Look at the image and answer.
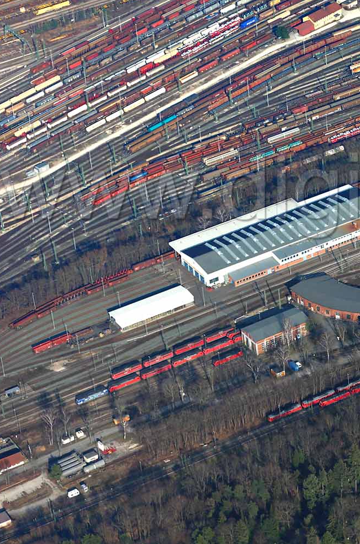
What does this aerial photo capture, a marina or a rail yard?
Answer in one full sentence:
What you see here is a rail yard.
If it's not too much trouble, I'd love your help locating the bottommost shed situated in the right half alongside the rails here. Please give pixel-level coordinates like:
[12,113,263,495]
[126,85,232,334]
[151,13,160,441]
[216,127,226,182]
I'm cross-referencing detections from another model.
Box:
[240,311,308,355]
